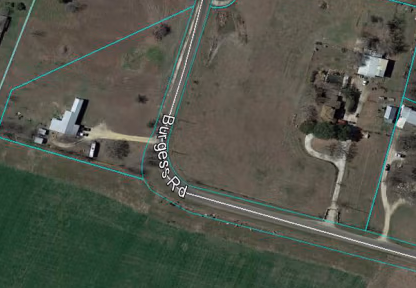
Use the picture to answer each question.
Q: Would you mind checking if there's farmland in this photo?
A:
Yes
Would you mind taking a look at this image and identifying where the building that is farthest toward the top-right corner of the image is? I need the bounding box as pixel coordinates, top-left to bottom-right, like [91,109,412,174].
[360,54,389,77]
